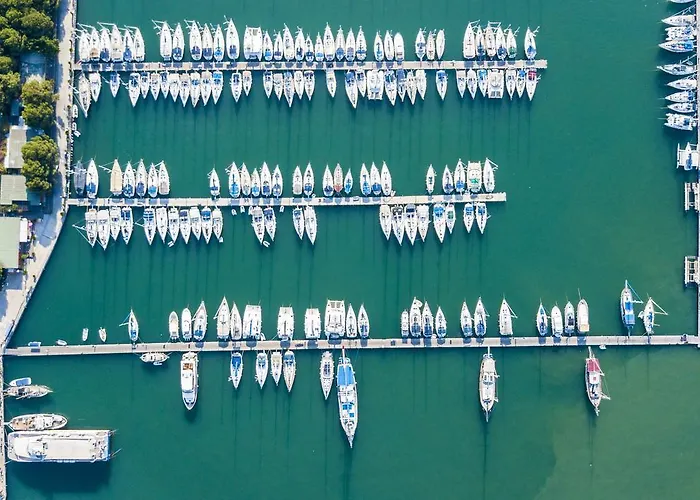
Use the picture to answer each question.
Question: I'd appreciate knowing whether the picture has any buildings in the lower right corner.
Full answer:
No, I see no building in the lower right corner.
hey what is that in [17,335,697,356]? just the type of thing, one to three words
pier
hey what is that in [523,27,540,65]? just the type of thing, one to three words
boat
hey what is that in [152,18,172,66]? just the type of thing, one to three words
boat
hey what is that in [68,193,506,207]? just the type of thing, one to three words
pier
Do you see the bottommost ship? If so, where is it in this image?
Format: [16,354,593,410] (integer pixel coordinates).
[4,423,123,463]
